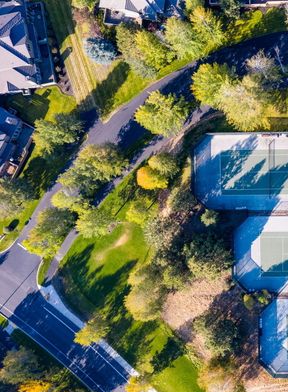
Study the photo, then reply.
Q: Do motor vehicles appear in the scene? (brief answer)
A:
No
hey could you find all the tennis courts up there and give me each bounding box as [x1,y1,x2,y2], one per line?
[234,216,288,293]
[195,134,288,210]
[261,299,288,374]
